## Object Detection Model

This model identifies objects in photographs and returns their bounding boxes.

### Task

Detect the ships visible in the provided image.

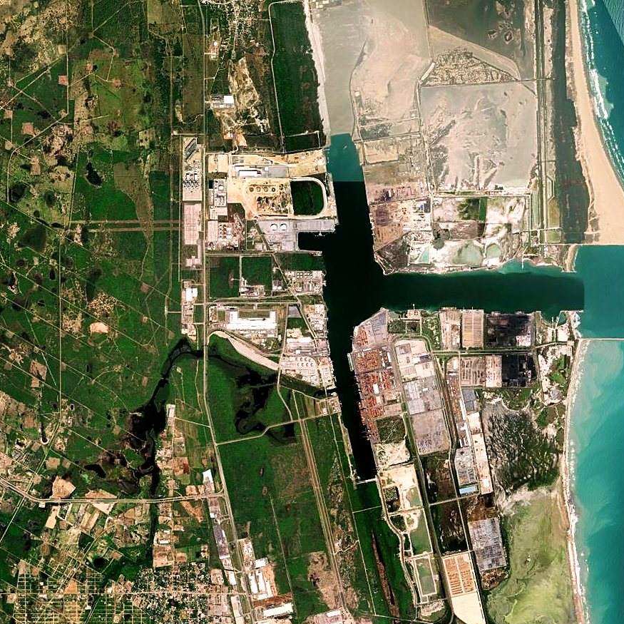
[348,353,353,371]
[358,401,365,426]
